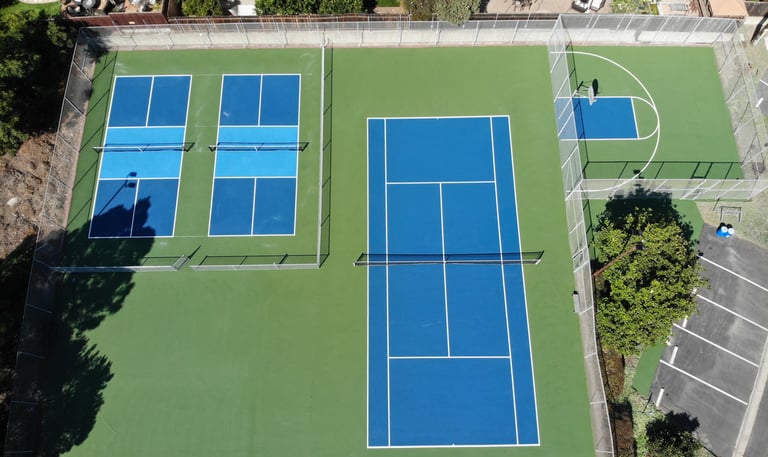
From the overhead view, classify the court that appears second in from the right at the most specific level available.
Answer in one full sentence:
I'd say the court that appears second in from the right is a tennis court.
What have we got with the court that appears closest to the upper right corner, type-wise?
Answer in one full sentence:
What you see as the court that appears closest to the upper right corner is a basketball court.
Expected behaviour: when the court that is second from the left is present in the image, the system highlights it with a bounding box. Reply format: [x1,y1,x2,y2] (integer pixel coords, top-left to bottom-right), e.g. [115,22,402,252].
[208,74,301,236]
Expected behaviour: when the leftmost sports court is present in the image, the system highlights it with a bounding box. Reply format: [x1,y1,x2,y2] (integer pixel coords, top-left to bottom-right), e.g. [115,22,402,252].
[88,75,192,238]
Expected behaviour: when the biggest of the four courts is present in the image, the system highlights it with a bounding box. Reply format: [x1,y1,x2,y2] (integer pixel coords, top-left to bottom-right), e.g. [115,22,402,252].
[367,116,540,448]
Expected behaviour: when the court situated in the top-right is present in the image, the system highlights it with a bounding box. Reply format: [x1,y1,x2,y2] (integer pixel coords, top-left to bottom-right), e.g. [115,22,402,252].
[549,51,659,191]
